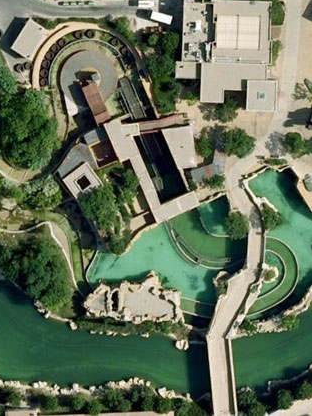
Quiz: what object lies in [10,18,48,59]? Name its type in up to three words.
building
